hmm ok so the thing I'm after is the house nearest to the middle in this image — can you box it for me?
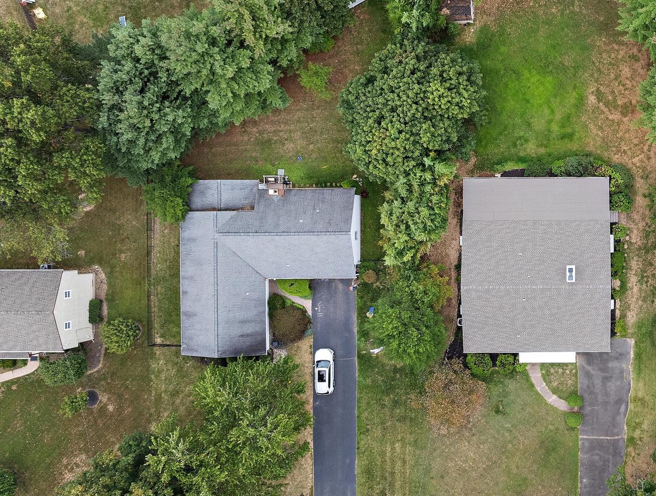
[179,179,360,358]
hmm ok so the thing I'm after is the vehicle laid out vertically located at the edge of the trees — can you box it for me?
[312,348,335,394]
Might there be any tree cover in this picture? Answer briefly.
Yes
